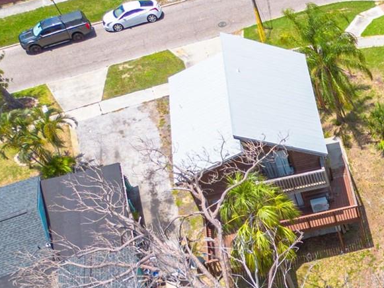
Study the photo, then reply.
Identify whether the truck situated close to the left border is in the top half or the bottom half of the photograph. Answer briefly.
top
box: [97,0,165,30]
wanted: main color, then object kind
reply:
white car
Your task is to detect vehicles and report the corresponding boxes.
[97,0,165,30]
[9,0,95,51]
